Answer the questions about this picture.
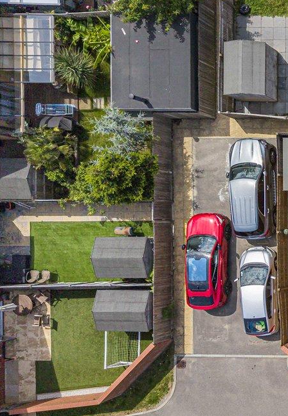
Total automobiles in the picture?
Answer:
3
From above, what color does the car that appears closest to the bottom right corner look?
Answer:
white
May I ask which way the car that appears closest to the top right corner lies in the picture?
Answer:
from top to bottom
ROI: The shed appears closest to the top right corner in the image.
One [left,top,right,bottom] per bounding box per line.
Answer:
[224,38,277,100]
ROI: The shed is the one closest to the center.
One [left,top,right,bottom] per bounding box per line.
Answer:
[89,237,154,278]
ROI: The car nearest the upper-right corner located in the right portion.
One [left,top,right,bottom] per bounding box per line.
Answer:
[226,138,276,238]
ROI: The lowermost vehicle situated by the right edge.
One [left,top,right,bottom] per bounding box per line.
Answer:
[233,248,276,334]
